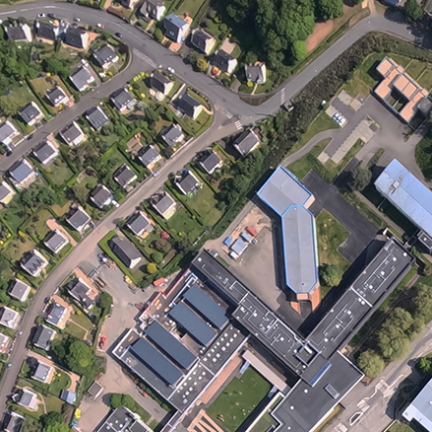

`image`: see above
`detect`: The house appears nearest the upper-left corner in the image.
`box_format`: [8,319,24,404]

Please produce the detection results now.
[2,25,33,47]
